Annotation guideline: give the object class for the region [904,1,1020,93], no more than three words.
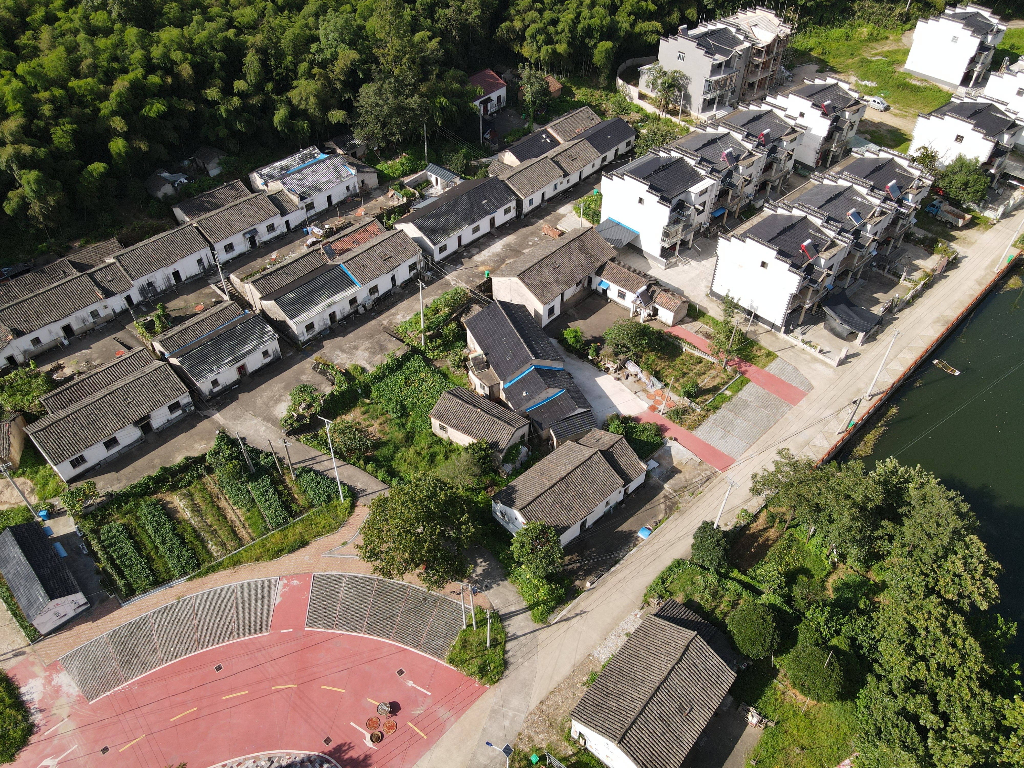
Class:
house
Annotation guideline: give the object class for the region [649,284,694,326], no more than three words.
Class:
shed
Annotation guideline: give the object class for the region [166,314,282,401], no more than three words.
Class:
house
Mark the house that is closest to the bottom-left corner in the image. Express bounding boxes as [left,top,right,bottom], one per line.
[0,522,89,638]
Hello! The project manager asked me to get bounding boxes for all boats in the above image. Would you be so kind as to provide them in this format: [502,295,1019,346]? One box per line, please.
[934,359,960,373]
